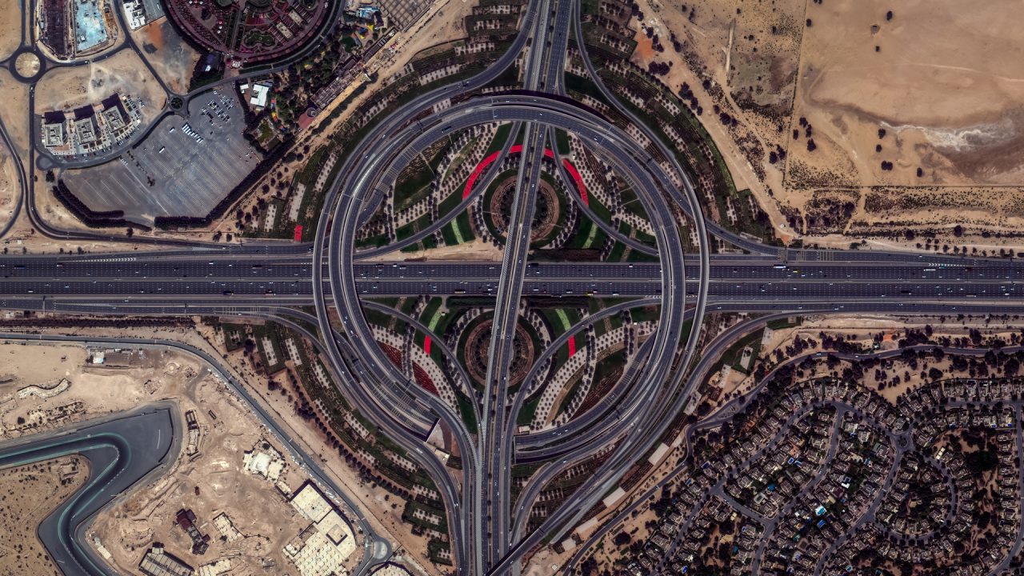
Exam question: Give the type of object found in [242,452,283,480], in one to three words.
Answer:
building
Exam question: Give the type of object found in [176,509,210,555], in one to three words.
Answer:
house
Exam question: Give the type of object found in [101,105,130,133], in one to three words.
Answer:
building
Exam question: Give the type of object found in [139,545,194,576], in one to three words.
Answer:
shed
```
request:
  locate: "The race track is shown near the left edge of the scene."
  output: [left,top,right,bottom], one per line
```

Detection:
[0,394,187,576]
